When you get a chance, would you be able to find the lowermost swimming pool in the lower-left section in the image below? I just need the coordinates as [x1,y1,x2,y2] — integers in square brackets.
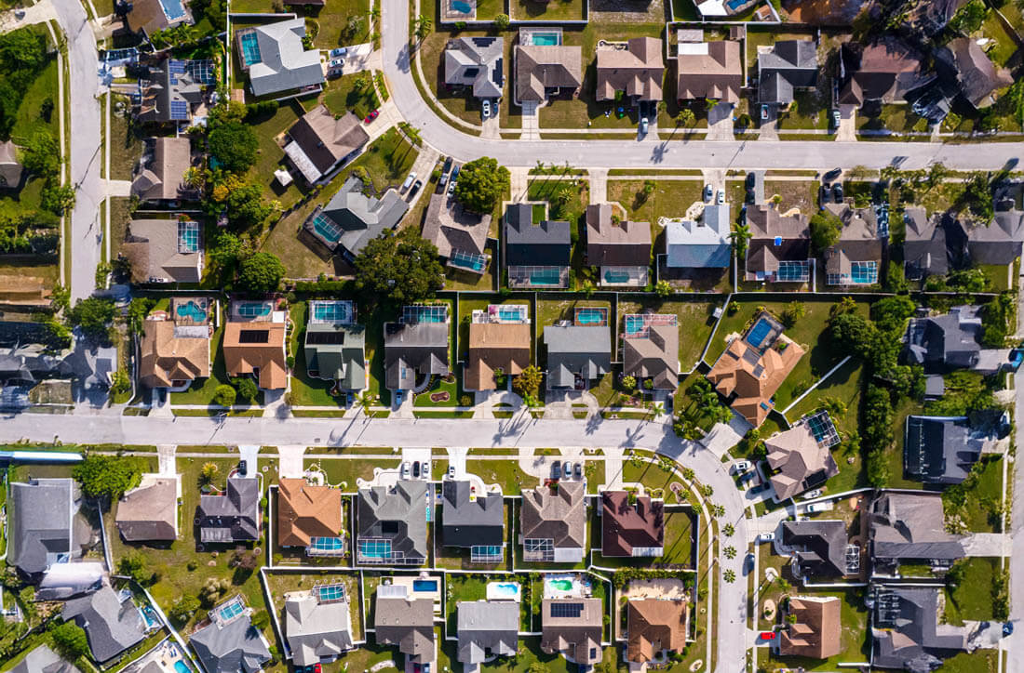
[145,637,201,673]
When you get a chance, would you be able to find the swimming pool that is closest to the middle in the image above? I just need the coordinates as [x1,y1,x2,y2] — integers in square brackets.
[472,305,527,324]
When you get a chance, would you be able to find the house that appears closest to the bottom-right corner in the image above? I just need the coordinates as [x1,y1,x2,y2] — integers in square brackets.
[870,587,966,669]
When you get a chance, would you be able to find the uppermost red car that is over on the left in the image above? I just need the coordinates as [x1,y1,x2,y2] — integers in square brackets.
[365,109,379,124]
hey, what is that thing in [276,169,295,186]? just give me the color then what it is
white gazebo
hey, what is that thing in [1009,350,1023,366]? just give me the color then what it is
blue car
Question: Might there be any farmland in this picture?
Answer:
No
